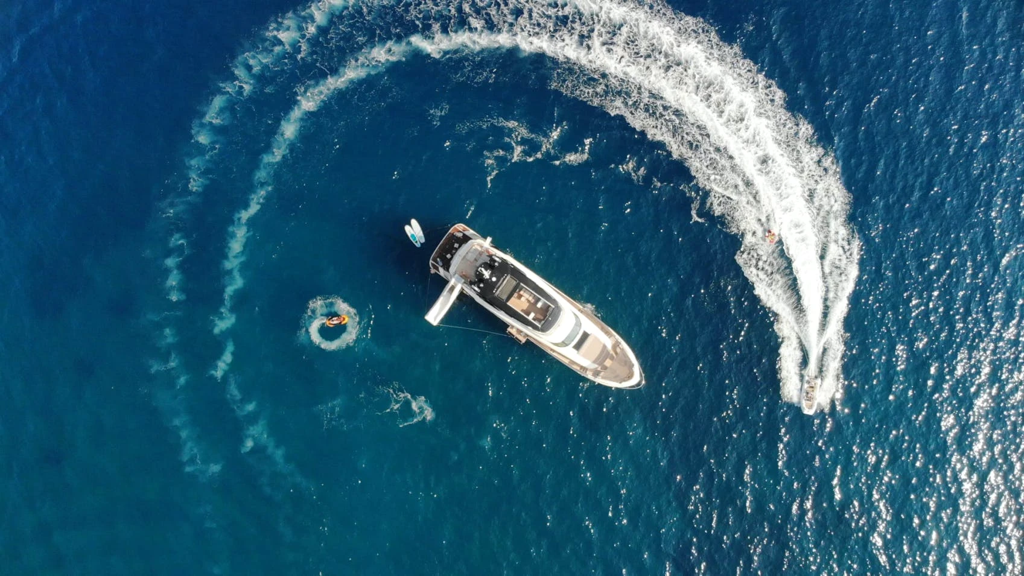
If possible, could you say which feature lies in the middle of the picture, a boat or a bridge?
boat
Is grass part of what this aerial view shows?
No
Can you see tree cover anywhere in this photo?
No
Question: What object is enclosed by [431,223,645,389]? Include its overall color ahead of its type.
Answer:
white boat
